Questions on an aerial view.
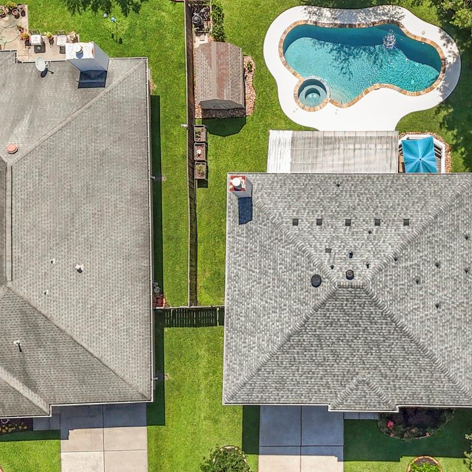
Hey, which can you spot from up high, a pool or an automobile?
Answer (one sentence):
Visible in the photo is a pool.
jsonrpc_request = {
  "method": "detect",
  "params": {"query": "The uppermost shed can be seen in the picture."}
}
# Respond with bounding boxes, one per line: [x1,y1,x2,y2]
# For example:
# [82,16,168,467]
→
[196,40,247,109]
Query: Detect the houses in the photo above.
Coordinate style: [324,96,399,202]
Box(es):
[0,42,157,418]
[222,172,472,412]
